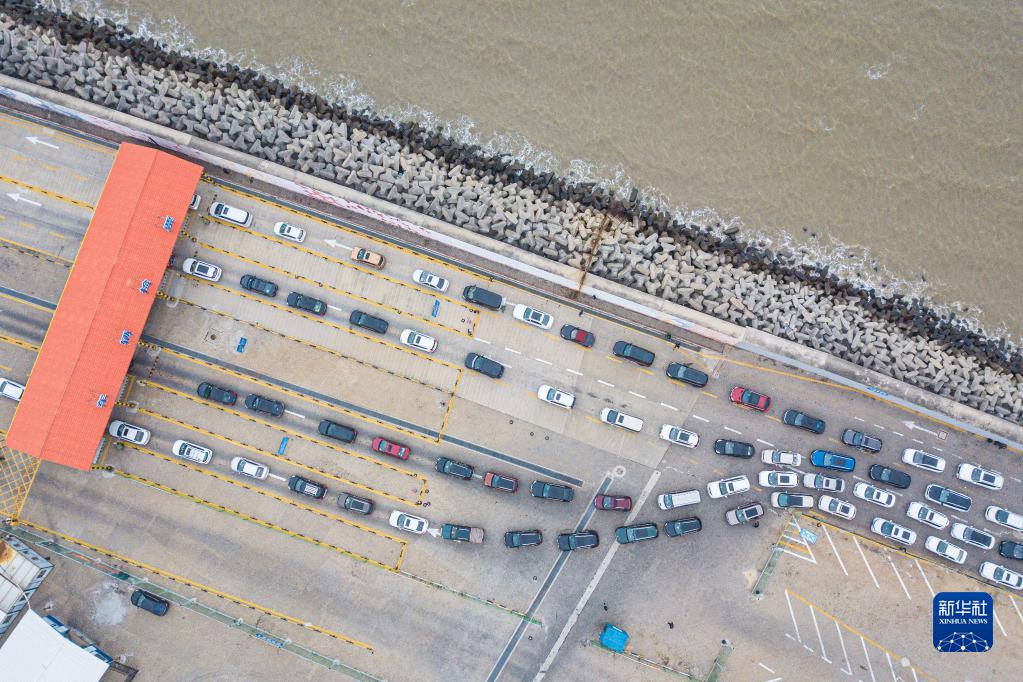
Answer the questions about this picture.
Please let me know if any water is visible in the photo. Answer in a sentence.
Yes, there's water in this view.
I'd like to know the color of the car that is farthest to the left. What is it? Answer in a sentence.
From above, the car that is farthest to the left appears white.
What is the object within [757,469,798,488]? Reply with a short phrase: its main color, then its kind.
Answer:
white car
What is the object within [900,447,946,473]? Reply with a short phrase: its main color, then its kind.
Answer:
white car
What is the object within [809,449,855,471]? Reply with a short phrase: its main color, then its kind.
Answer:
blue car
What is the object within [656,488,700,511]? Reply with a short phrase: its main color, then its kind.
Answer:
white vehicle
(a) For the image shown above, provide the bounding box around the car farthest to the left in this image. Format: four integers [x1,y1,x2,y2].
[0,375,28,401]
